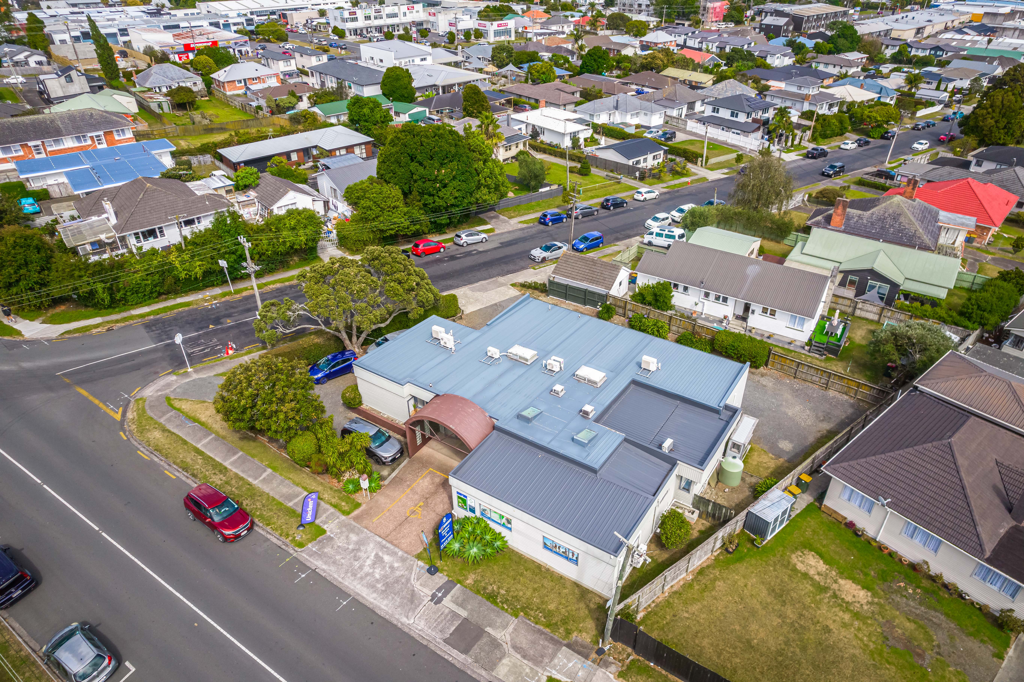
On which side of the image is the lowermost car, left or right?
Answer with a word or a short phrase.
left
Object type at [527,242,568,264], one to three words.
car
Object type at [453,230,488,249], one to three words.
car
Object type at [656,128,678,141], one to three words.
vehicle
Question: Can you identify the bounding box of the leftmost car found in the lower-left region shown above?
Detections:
[0,547,34,611]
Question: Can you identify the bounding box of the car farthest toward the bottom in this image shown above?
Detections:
[42,624,121,682]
